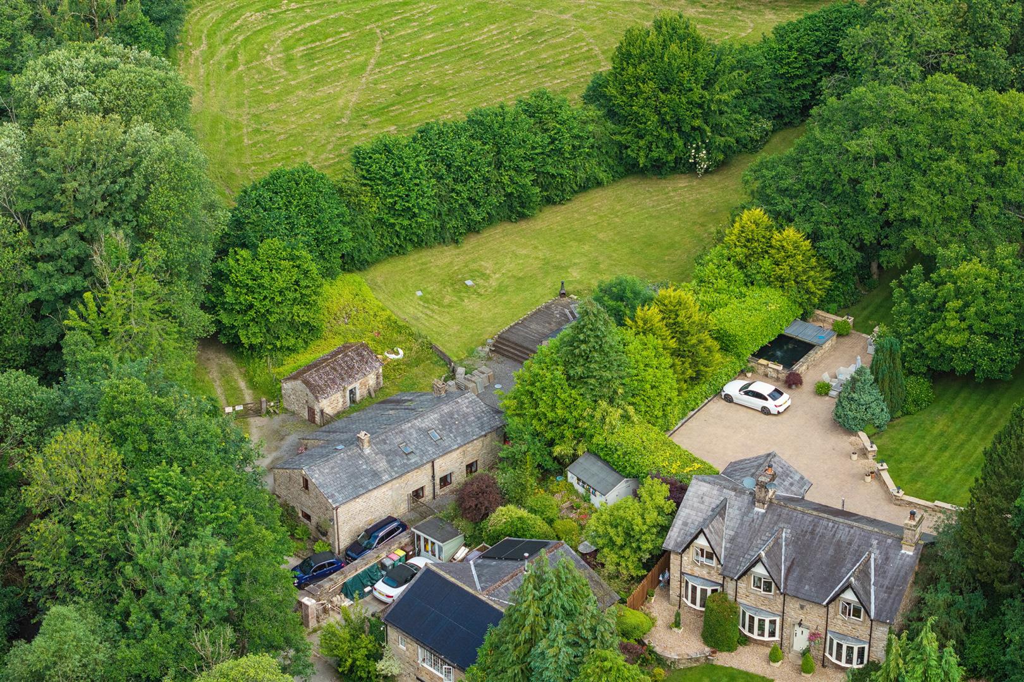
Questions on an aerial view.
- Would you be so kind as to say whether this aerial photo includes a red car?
No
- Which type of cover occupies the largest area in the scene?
trees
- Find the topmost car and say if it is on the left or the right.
right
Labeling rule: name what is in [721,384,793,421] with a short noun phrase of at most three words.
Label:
car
